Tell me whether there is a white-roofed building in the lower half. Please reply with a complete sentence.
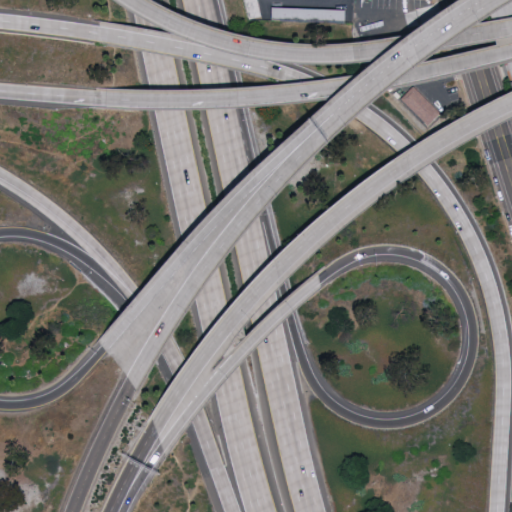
No, there's no white-roofed building to be seen in the lower half.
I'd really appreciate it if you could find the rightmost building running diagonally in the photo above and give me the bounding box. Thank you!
[401,86,440,128]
